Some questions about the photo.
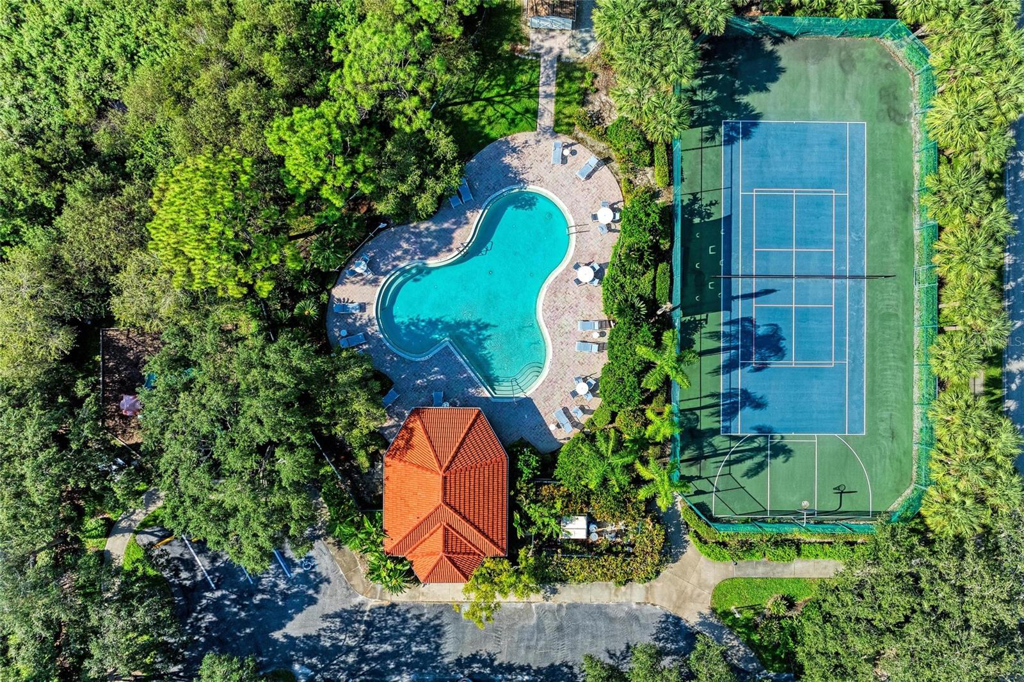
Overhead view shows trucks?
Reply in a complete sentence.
No, the frame has no truck in it.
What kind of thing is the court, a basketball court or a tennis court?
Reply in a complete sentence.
It looks like the court is a tennis court.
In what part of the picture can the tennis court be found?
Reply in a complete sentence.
You can find the tennis court in the right area of the picture.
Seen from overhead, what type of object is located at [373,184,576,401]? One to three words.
swimming pool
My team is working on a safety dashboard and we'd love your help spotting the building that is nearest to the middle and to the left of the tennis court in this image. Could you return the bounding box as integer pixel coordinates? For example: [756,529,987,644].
[382,406,509,586]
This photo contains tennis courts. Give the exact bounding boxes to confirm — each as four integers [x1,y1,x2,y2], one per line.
[671,38,912,518]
